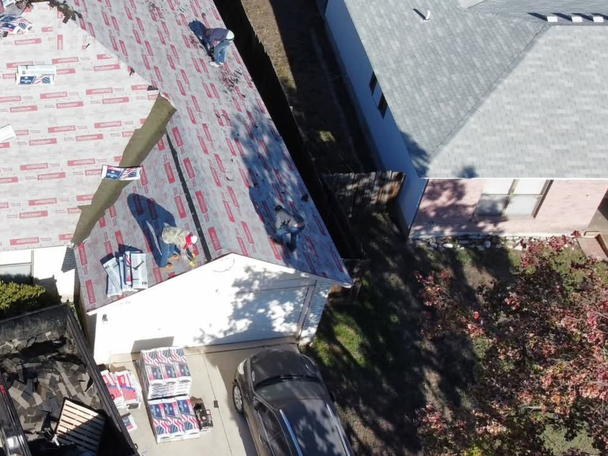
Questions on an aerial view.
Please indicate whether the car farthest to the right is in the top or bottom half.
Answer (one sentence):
The car farthest to the right is in the bottom half of the image.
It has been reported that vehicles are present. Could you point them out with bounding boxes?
[234,341,367,456]
[0,305,139,456]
